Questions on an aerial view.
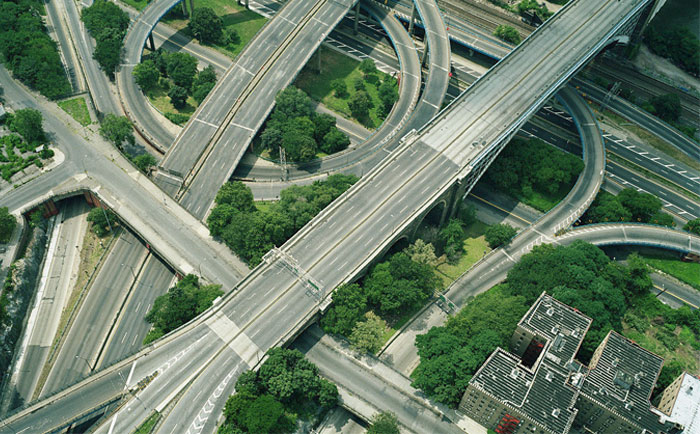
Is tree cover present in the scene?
Yes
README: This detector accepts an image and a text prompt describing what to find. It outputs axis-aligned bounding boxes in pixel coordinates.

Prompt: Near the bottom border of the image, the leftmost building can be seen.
[460,290,594,434]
